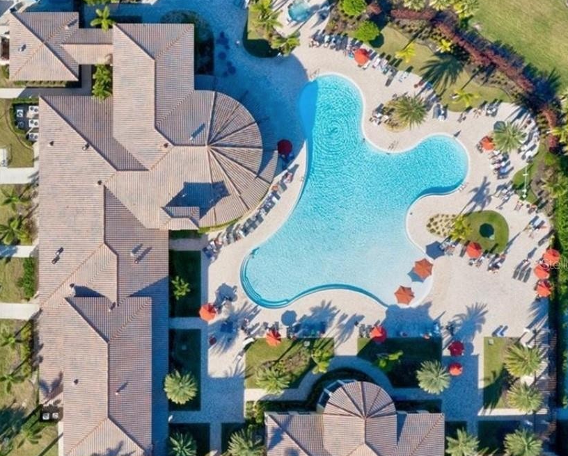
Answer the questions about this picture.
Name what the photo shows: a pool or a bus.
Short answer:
pool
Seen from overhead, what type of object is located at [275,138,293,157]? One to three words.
umbrella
